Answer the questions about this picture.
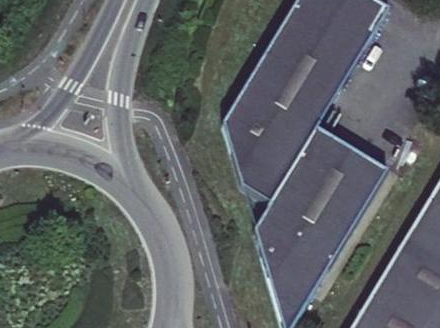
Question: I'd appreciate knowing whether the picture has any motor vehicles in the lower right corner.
No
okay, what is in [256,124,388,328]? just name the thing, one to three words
building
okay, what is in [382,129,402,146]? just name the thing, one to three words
car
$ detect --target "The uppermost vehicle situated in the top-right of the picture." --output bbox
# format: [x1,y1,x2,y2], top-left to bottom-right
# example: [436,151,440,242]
[364,48,381,72]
